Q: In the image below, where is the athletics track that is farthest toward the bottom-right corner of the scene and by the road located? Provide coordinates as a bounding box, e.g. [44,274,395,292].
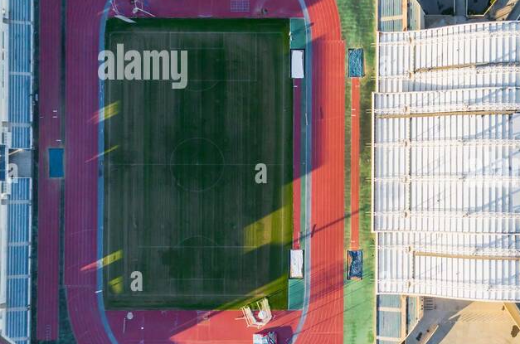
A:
[304,42,344,344]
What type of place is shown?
sports ground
